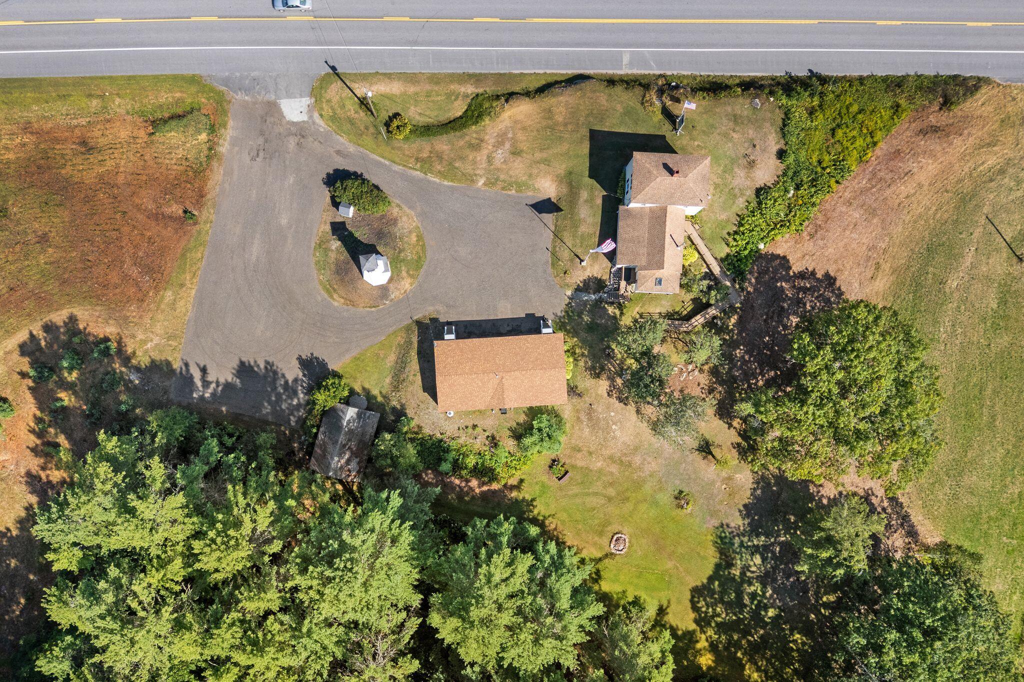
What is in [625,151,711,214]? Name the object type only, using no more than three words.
house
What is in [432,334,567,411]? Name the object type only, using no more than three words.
building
